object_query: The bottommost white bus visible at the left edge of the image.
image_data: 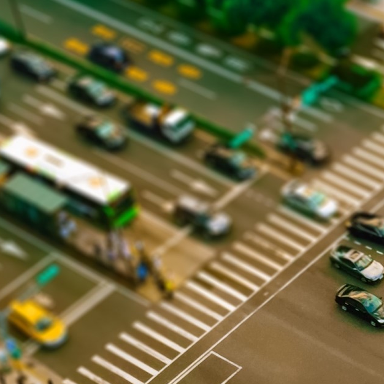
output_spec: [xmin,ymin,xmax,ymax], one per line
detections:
[0,132,143,233]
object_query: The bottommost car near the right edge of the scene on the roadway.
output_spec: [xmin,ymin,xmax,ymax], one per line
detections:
[329,285,384,332]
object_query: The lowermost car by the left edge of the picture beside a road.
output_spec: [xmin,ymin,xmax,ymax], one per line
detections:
[0,297,69,348]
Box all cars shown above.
[169,191,236,239]
[70,116,131,153]
[329,285,384,332]
[323,244,384,290]
[271,128,332,166]
[345,213,384,248]
[5,49,59,84]
[83,39,135,72]
[0,297,69,348]
[62,74,120,108]
[198,143,260,182]
[276,183,341,222]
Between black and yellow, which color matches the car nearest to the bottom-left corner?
yellow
